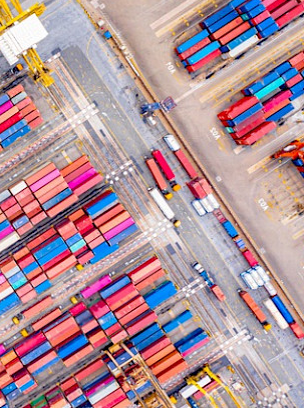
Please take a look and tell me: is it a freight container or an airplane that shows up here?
freight container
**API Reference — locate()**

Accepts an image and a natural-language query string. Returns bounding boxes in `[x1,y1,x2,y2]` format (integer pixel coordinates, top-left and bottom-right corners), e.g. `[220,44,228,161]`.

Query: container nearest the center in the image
[147,186,174,215]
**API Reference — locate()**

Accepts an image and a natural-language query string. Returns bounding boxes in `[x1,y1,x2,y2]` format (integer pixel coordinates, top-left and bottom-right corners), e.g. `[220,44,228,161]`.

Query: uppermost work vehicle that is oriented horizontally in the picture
[134,99,178,115]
